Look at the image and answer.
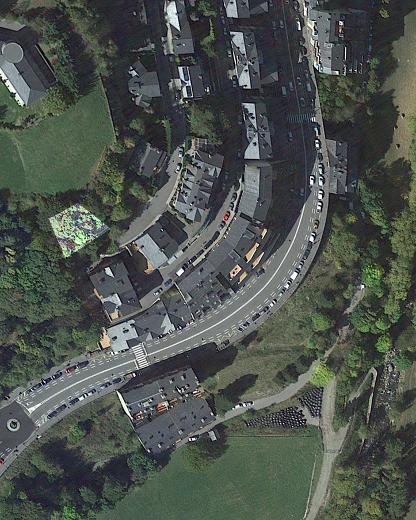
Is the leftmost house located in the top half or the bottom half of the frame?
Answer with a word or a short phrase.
top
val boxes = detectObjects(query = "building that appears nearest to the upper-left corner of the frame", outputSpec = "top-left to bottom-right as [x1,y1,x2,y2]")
[0,39,57,107]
